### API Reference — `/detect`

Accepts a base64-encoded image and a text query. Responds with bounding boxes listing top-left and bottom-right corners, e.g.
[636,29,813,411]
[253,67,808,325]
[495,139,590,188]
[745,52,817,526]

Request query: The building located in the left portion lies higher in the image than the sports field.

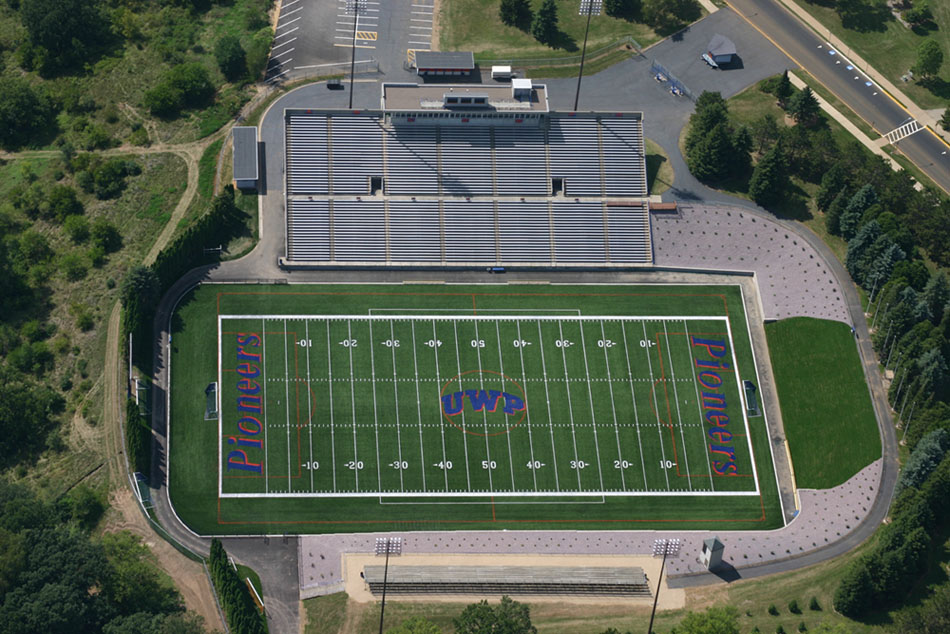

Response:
[233,125,259,188]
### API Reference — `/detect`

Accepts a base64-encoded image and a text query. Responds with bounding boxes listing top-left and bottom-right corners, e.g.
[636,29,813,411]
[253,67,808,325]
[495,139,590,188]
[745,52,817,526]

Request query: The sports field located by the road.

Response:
[166,282,788,537]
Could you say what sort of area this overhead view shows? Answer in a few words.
sports ground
